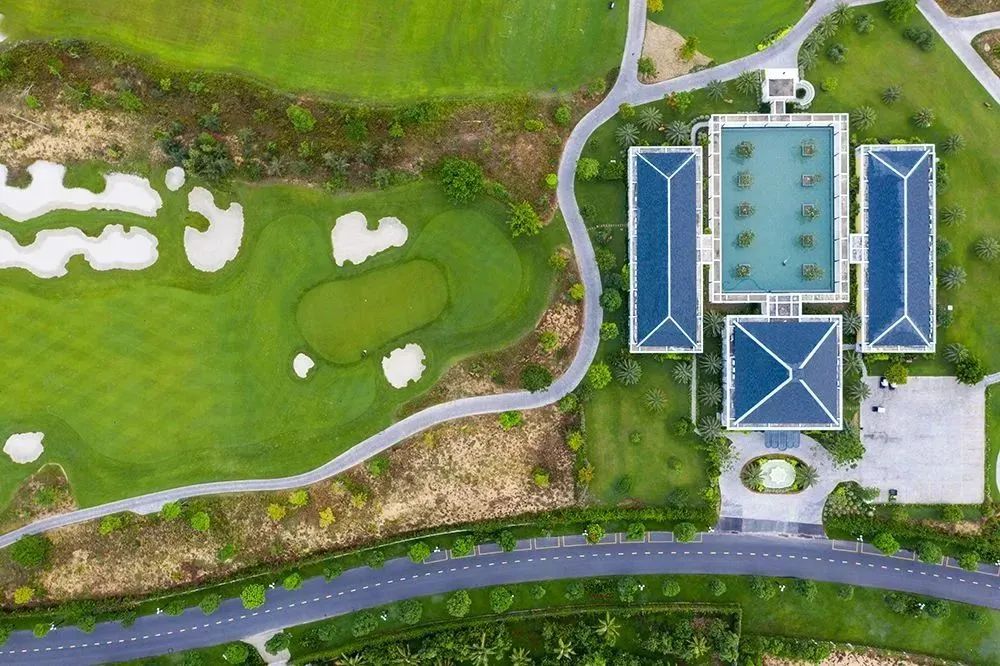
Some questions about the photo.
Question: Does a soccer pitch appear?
No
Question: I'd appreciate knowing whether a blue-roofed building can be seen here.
Yes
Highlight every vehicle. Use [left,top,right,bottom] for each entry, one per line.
[871,406,888,413]
[889,489,898,502]
[886,380,900,393]
[878,377,890,391]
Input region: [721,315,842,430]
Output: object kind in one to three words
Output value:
building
